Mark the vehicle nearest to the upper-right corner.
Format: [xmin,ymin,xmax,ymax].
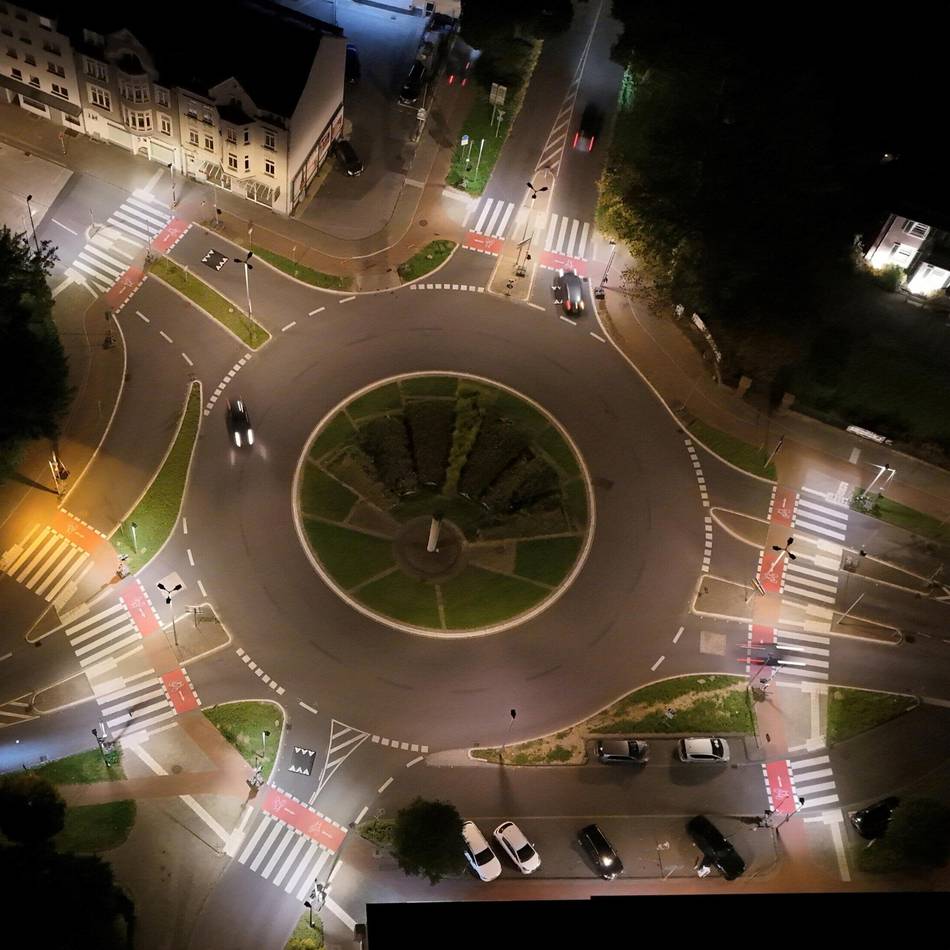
[574,106,602,146]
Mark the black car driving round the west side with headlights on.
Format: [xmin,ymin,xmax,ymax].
[225,395,255,446]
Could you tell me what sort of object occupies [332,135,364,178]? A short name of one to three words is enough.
car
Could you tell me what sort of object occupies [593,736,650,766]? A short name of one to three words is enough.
car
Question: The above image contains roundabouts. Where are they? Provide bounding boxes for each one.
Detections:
[207,307,678,722]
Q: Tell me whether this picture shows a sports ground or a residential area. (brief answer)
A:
residential area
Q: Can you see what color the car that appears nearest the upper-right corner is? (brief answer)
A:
black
